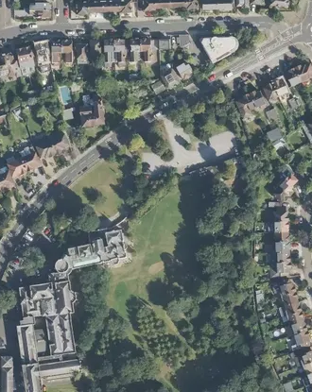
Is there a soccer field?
No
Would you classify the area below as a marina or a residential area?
residential area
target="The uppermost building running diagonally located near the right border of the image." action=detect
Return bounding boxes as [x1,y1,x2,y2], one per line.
[289,53,312,85]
